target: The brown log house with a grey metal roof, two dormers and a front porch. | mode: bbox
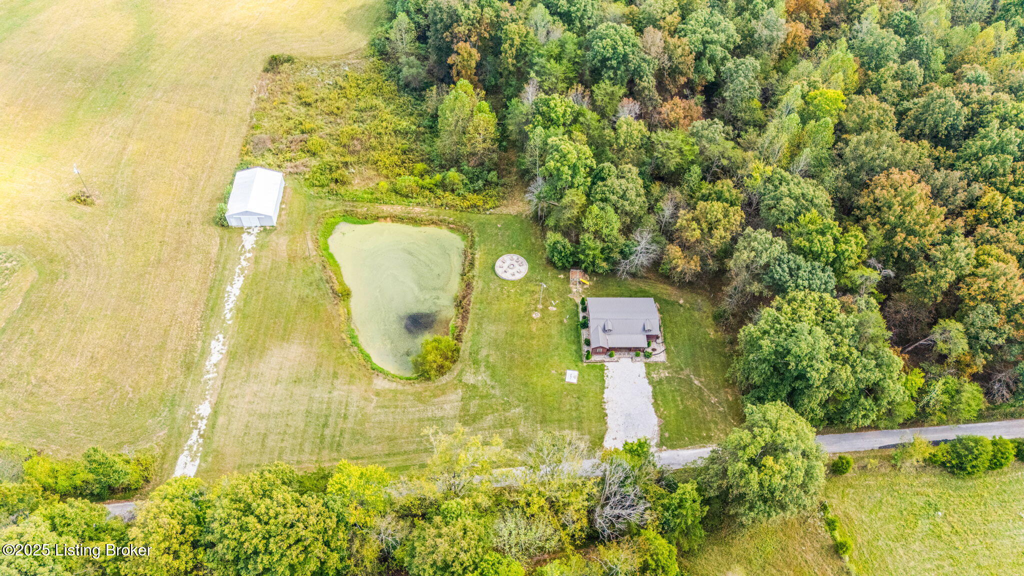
[587,298,660,355]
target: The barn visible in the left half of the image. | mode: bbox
[224,166,285,227]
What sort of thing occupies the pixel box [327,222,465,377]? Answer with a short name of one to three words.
pond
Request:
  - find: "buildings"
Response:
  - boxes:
[587,298,660,355]
[224,166,285,227]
